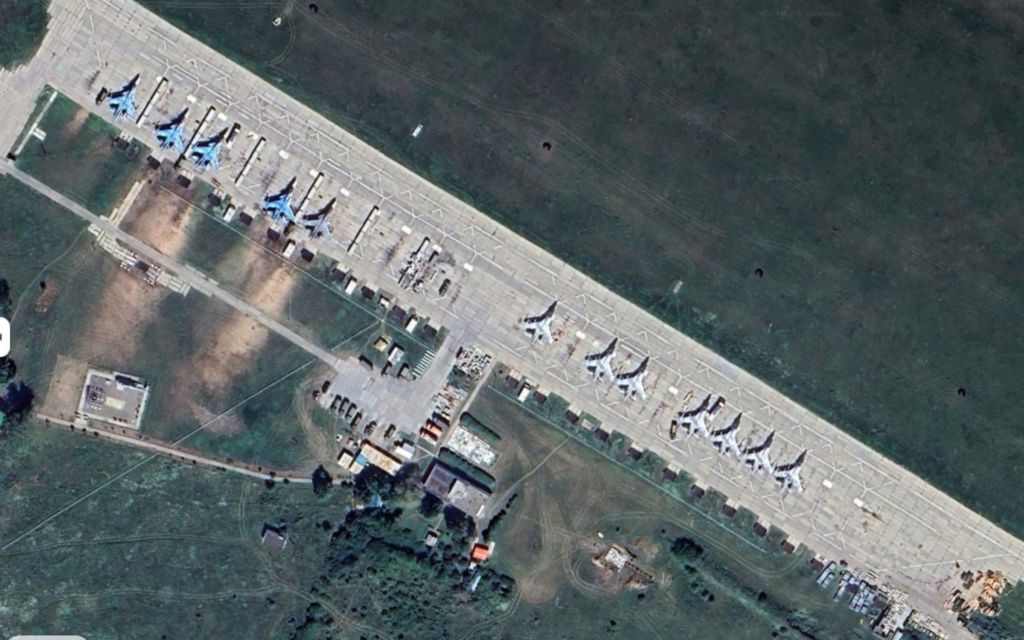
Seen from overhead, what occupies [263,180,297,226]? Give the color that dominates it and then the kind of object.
blue airplane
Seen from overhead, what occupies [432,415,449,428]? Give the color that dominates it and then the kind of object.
gray vehicle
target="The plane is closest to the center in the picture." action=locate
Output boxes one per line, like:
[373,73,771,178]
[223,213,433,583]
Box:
[526,303,560,349]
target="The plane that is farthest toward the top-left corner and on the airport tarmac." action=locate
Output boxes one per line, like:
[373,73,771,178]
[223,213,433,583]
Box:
[106,75,141,122]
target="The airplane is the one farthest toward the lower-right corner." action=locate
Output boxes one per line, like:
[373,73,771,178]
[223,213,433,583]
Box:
[776,452,810,499]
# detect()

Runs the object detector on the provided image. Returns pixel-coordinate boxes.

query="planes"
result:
[156,110,190,157]
[106,75,141,122]
[526,303,560,349]
[743,433,778,480]
[617,360,651,405]
[776,452,810,499]
[710,415,744,461]
[680,396,714,443]
[586,339,620,386]
[303,201,337,247]
[263,180,297,226]
[193,127,228,175]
